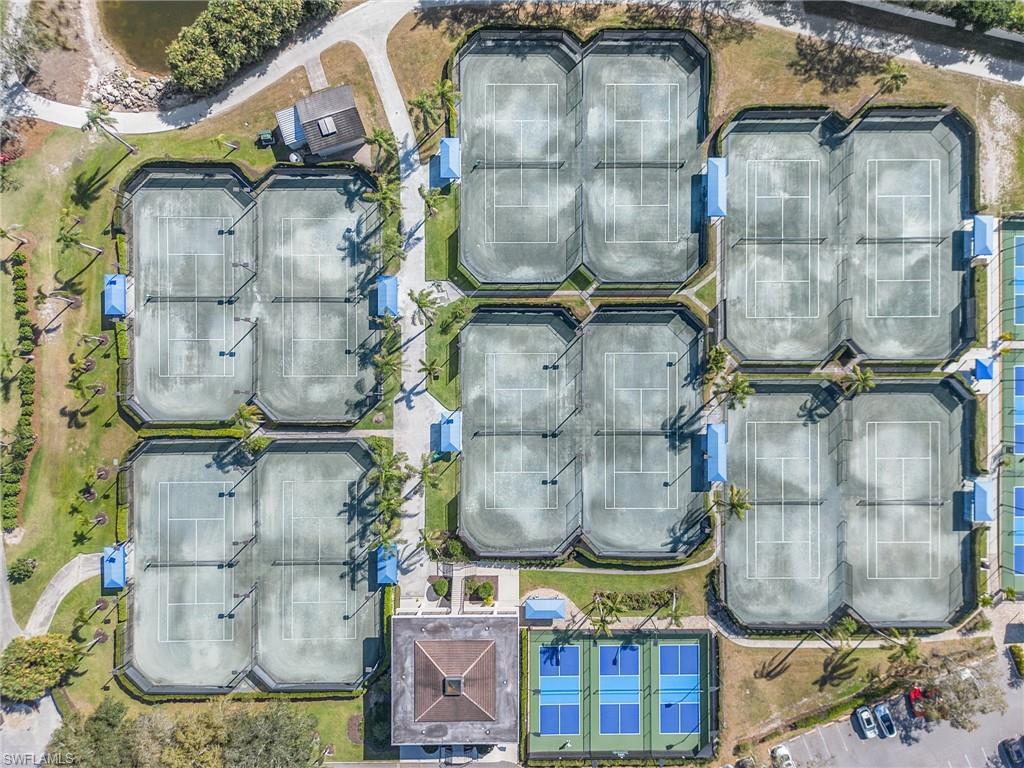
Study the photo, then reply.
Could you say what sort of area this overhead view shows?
sports ground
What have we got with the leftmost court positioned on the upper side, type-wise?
tennis court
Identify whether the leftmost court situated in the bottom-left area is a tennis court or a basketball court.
tennis court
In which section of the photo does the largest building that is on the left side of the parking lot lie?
bottom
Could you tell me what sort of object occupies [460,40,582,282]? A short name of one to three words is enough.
tennis court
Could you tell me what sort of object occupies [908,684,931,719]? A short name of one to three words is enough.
car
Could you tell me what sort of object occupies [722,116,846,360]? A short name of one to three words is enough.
tennis court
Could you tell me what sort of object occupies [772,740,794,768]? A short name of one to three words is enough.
car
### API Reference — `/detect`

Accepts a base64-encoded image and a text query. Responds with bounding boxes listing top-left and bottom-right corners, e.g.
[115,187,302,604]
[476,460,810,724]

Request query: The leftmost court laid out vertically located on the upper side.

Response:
[134,174,256,420]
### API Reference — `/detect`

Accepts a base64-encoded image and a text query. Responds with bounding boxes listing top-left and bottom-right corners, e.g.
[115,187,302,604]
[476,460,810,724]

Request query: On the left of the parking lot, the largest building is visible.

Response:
[391,574,520,767]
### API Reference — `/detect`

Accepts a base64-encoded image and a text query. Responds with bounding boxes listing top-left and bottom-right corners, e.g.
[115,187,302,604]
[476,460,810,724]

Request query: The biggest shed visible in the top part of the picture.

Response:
[275,85,369,160]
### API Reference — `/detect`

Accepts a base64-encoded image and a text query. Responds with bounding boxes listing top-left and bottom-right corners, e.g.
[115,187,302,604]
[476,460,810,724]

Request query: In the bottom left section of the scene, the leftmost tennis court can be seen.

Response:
[134,440,257,684]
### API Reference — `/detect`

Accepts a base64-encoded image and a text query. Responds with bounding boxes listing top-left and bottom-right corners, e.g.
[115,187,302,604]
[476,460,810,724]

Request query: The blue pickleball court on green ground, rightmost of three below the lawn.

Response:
[651,636,710,753]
